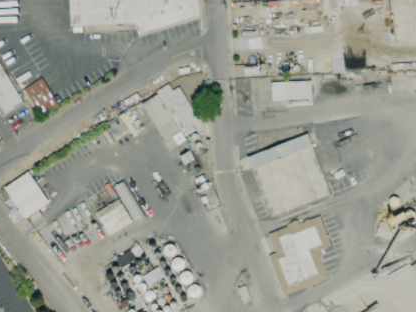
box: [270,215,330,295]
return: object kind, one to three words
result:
building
